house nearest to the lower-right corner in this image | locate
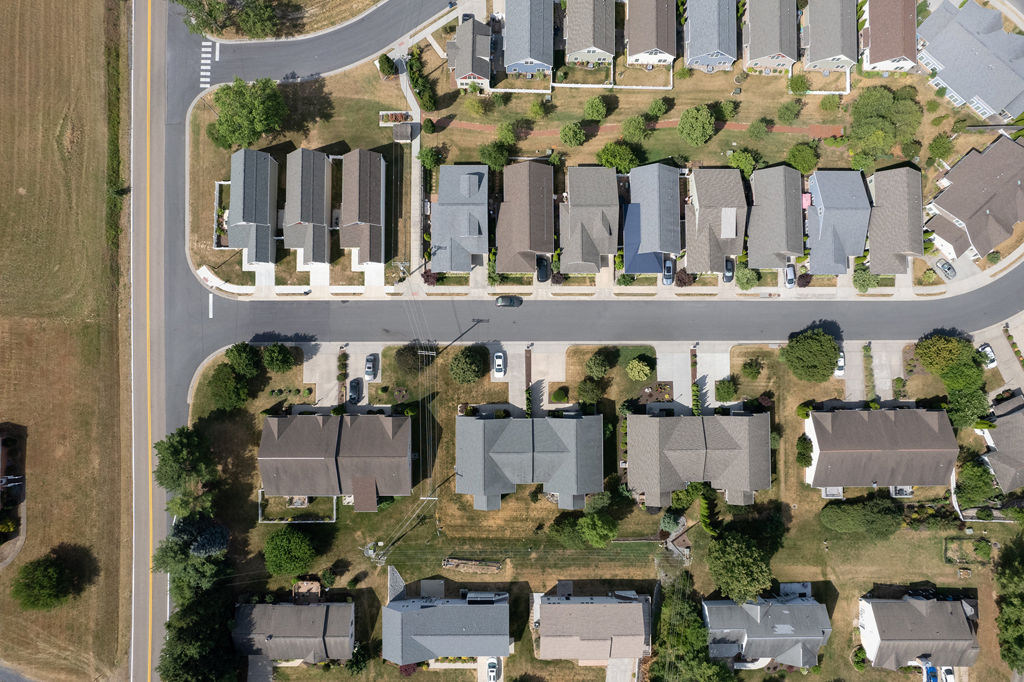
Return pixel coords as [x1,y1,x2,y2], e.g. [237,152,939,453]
[860,587,986,676]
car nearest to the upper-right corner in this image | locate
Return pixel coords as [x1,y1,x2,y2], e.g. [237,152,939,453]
[934,256,956,281]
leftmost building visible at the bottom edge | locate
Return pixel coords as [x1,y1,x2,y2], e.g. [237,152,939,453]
[234,582,355,666]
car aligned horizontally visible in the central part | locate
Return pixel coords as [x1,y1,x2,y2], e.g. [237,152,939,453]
[495,295,522,308]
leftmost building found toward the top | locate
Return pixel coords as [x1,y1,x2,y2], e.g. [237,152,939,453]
[225,150,277,264]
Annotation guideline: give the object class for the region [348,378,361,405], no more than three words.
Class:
vehicle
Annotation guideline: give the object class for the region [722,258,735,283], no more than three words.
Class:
vehicle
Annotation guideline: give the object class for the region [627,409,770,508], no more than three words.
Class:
house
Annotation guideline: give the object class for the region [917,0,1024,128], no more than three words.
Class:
house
